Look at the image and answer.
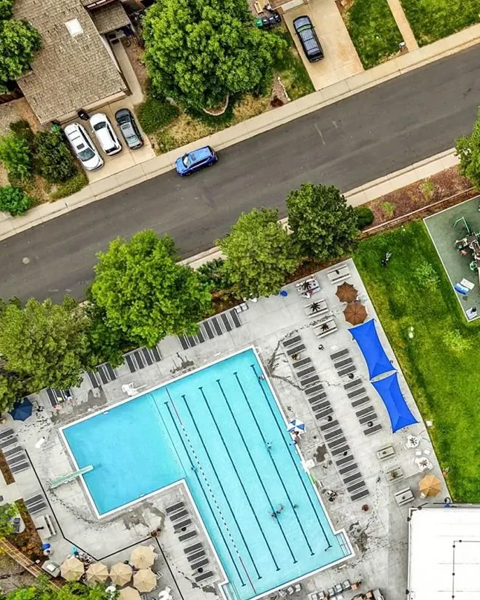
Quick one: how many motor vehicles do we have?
5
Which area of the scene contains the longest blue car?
top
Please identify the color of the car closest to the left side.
white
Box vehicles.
[91,113,121,154]
[294,14,323,63]
[65,121,101,169]
[175,146,220,174]
[116,108,144,151]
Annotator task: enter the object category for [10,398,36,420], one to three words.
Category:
umbrella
